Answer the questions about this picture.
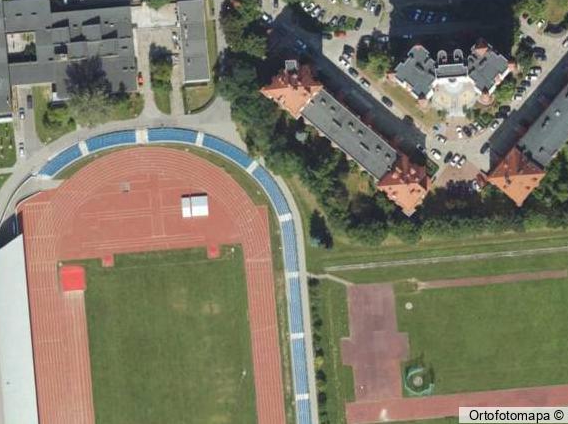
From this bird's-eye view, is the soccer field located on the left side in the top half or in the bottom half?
bottom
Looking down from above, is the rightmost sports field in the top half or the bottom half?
bottom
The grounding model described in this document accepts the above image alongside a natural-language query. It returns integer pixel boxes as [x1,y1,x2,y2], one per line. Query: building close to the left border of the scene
[0,0,138,123]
